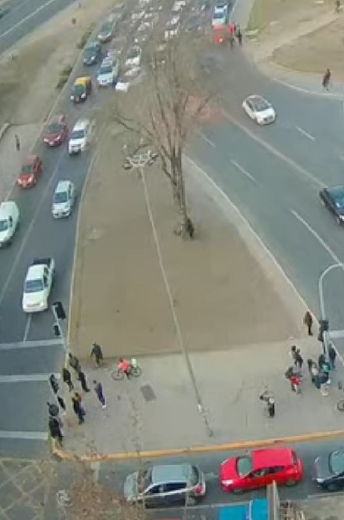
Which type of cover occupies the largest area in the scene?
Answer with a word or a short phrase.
paved ground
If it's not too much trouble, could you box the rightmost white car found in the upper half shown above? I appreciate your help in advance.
[246,96,273,122]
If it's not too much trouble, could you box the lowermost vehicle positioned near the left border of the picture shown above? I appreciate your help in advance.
[16,256,60,310]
